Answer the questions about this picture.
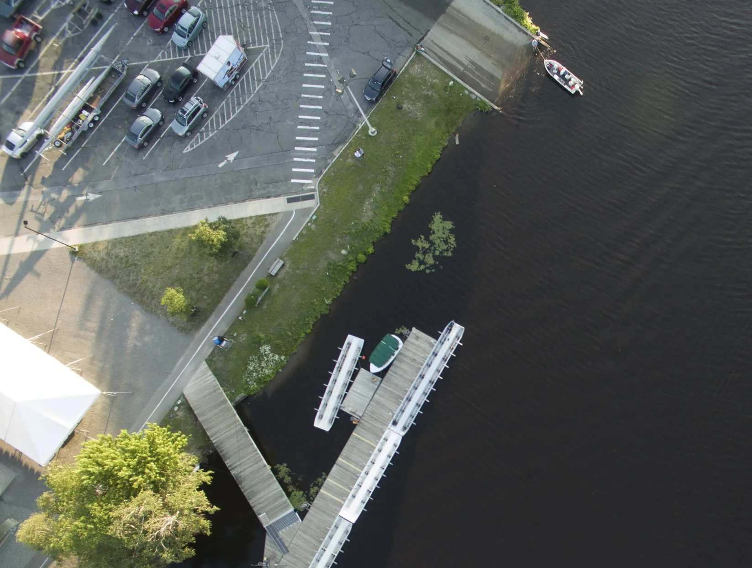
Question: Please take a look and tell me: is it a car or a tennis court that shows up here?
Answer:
car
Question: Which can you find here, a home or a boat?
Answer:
boat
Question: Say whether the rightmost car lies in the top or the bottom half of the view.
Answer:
top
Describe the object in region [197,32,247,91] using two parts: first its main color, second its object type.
white trailer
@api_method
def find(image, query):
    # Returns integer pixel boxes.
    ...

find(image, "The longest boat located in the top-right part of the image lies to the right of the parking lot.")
[544,59,583,95]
